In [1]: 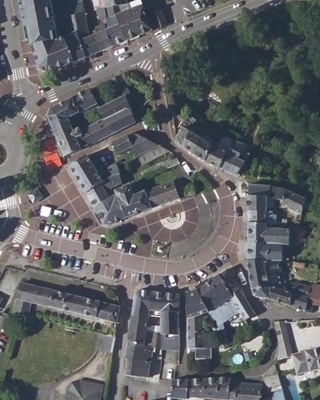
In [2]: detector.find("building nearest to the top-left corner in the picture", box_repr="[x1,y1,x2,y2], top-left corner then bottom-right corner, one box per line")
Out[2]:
[20,0,62,41]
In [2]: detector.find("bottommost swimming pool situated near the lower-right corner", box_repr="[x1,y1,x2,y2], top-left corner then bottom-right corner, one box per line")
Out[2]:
[288,373,302,400]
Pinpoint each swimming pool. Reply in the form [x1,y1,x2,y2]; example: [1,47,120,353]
[288,373,302,400]
[233,354,244,365]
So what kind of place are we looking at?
residential area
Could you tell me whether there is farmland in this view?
No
